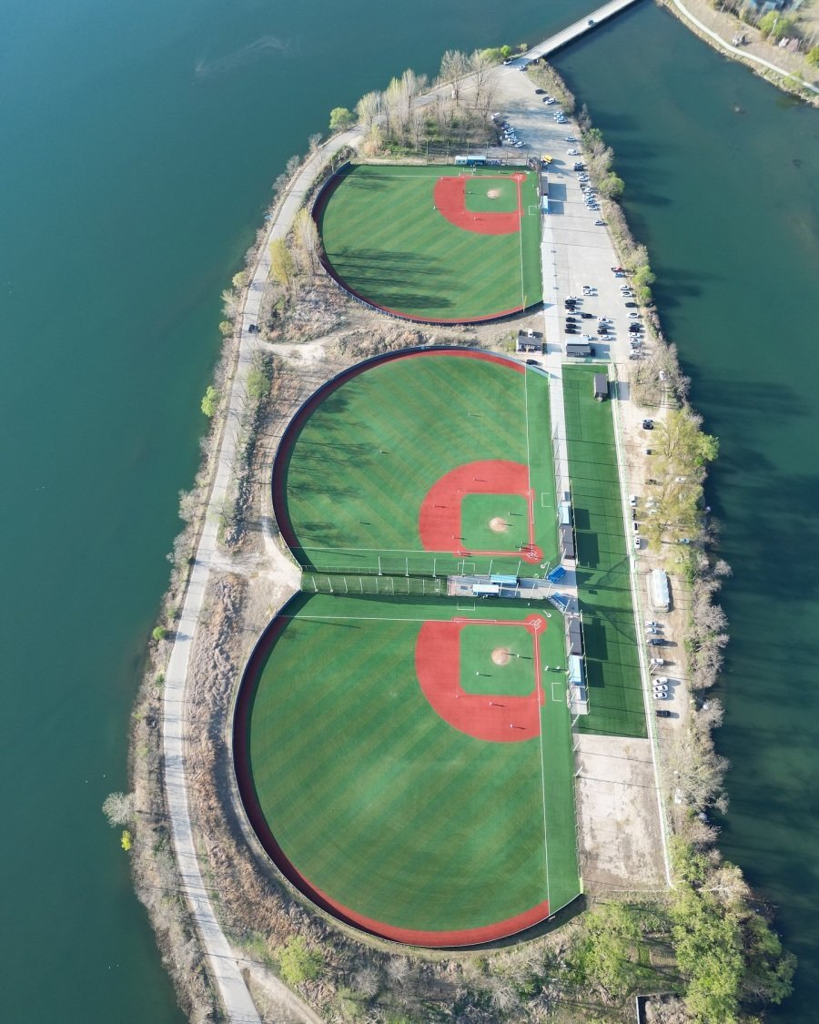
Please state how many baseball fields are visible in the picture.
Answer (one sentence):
The photo contains 3 baseball fields.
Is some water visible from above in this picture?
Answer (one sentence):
Yes, there is water in the image.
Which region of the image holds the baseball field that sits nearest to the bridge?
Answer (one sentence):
The baseball field that sits nearest to the bridge appears toward the top of the photo.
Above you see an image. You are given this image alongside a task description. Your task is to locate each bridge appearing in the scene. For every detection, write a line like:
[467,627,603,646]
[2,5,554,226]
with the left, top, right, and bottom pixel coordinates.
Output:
[527,0,640,58]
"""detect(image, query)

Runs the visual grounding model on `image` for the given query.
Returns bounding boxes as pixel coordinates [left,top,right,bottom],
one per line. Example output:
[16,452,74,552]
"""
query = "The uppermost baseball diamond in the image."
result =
[313,164,541,320]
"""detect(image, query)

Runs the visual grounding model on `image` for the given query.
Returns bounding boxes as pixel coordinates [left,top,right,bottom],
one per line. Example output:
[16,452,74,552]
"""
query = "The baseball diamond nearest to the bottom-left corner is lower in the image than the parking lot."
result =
[234,592,581,948]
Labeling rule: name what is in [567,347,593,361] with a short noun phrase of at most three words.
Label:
building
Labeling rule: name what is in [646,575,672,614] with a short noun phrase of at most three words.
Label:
greenhouse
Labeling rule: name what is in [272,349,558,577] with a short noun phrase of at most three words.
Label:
baseball field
